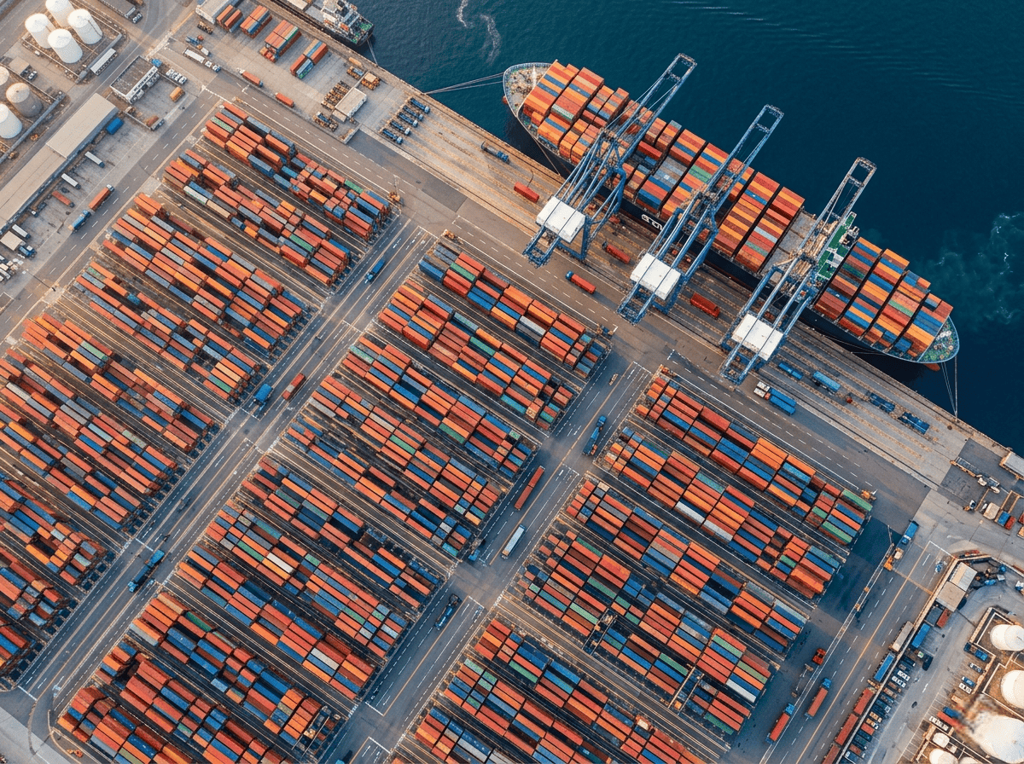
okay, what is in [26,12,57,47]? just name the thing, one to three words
storage tank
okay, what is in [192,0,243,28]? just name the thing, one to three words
shed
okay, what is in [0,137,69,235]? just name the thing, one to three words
building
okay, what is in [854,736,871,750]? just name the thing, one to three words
vehicle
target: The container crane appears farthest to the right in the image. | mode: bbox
[713,151,883,396]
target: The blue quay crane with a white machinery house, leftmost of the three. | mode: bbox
[517,50,698,272]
